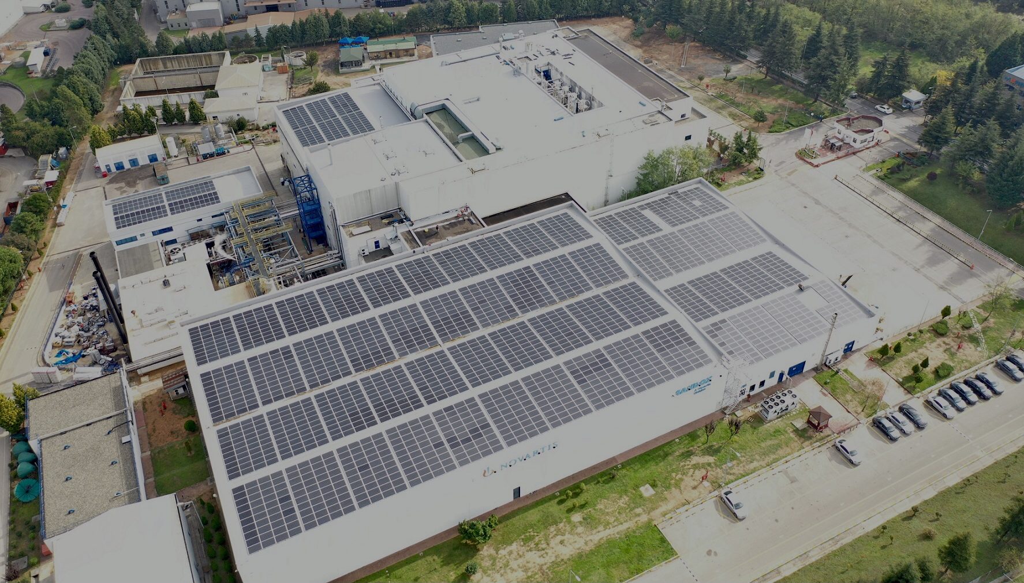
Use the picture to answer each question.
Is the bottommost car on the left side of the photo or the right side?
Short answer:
right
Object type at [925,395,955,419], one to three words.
car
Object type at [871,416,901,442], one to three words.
car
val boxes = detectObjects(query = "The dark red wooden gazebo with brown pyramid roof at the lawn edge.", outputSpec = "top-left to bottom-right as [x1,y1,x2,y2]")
[807,406,835,433]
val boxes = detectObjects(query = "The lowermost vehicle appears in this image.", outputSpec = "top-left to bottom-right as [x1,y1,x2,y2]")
[719,491,749,521]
